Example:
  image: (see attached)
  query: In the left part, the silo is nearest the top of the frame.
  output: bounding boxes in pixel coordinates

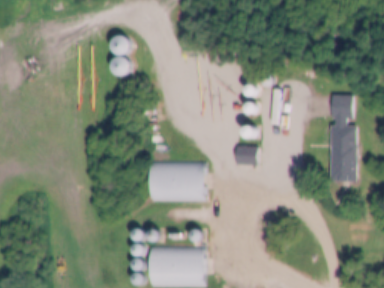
[108,34,136,56]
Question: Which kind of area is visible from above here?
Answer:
industrial area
